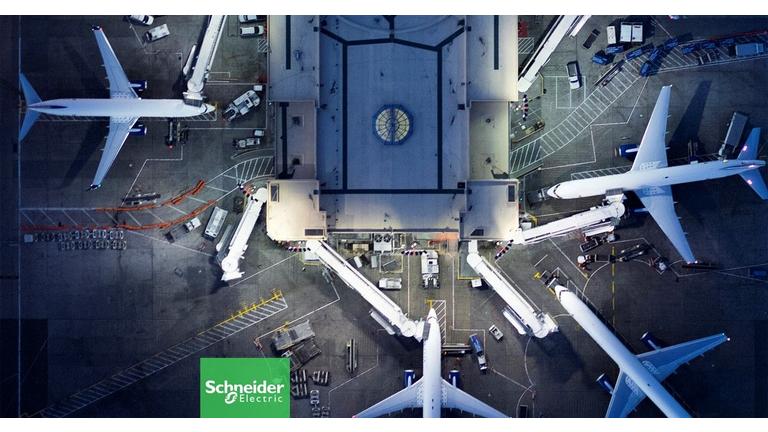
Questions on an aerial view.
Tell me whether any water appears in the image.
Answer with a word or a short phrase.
No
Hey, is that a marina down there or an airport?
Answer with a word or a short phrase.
airport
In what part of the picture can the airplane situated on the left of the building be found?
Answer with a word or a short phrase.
top left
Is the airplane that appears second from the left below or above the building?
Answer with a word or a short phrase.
below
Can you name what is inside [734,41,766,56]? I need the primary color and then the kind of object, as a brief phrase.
blue vehicle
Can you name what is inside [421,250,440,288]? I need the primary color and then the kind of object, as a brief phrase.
white work vehicle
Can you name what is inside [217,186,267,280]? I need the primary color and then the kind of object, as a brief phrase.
white jet bridge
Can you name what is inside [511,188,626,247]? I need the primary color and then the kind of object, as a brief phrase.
white jet bridge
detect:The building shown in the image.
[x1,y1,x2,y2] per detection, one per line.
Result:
[266,0,520,243]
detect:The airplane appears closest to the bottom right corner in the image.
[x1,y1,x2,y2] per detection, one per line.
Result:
[555,287,738,432]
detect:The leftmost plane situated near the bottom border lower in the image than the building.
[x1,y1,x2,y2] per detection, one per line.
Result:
[350,308,515,432]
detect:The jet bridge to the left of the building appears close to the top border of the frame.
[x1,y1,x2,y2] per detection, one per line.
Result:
[183,0,230,106]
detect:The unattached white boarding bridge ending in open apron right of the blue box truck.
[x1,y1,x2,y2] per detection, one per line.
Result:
[466,240,559,337]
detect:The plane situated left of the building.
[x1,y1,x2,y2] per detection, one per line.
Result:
[13,24,217,189]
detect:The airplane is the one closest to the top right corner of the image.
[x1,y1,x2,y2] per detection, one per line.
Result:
[546,82,768,266]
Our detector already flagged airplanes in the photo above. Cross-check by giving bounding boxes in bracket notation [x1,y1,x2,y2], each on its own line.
[555,287,738,432]
[546,82,768,266]
[13,24,217,189]
[350,308,515,432]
